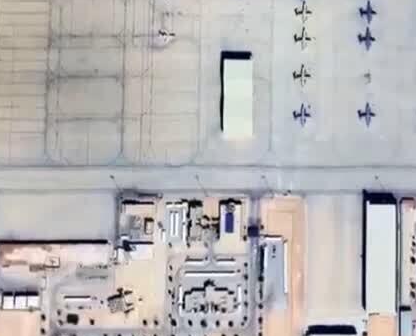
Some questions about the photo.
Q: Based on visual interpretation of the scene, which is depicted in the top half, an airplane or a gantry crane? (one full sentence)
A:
Looking in the top half, you will find an airplane.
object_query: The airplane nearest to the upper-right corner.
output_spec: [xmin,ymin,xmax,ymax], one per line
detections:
[361,3,377,26]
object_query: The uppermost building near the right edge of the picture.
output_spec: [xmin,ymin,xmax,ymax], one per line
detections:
[367,202,397,314]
